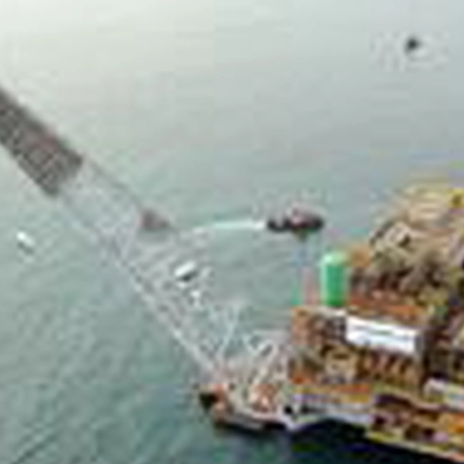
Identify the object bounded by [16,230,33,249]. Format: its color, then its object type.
white boat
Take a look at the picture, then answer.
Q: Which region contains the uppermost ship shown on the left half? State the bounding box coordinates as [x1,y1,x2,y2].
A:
[136,203,172,227]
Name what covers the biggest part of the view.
water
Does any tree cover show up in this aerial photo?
No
